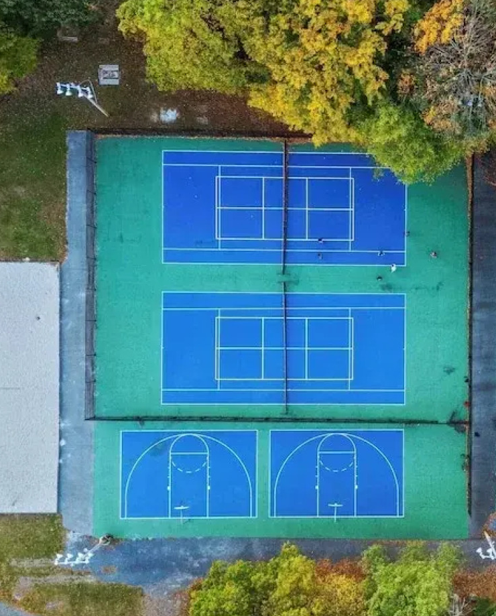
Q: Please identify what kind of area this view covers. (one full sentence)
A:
It's a sports ground.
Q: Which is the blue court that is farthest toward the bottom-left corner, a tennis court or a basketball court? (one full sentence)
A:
Looking closely, the blue court that is farthest toward the bottom-left corner is a basketball court.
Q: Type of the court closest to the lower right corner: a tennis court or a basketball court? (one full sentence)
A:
From above, the court closest to the lower right corner can be identified as a basketball court.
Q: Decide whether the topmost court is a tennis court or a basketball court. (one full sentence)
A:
Looking closely, the topmost court is a tennis court.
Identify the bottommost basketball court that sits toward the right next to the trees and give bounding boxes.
[263,419,468,540]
